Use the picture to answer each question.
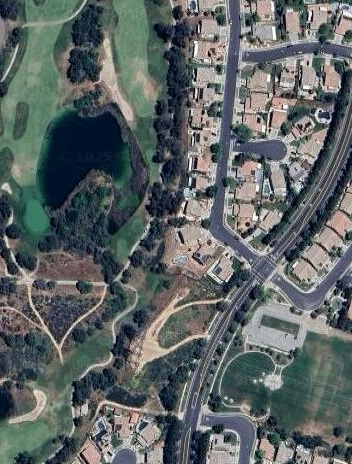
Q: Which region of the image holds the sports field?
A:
bottom right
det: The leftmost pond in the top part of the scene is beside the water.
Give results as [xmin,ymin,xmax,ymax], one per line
[35,108,148,231]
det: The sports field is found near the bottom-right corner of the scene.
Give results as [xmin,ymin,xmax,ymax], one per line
[292,330,352,431]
